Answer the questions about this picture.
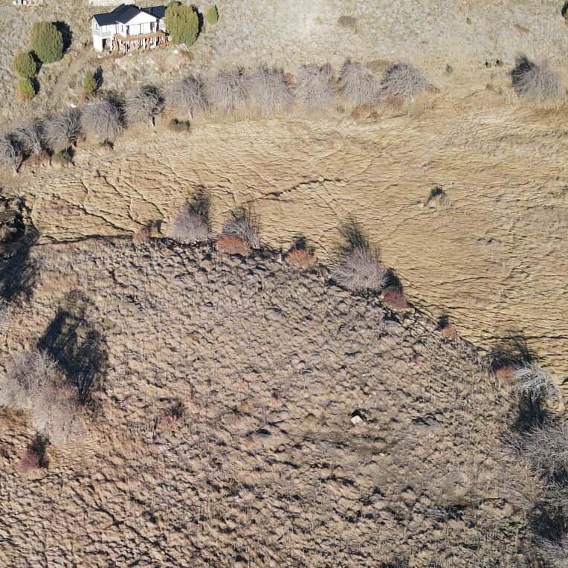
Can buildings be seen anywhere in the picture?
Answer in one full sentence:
Yes, I can see a building in this picture.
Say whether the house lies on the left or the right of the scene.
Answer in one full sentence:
The house sits on the left side.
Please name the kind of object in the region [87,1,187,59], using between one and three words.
house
